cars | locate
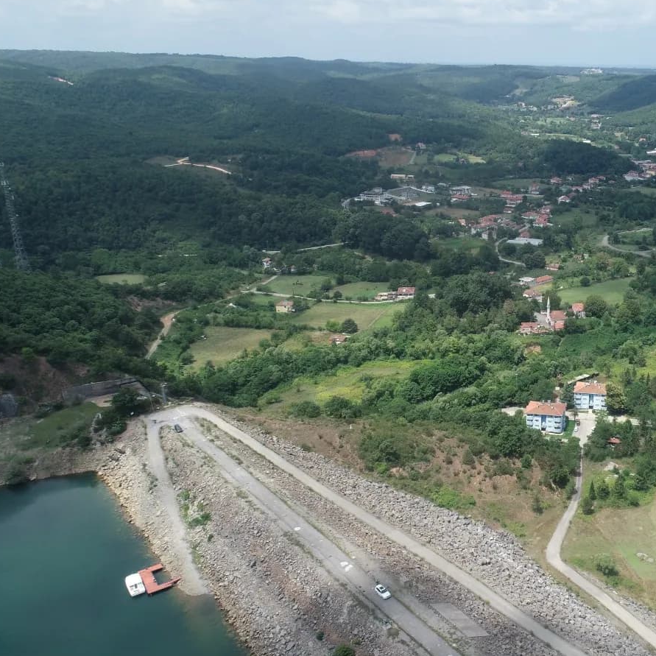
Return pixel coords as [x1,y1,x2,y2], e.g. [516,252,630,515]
[174,421,183,432]
[575,418,581,424]
[372,581,392,600]
[573,424,580,430]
